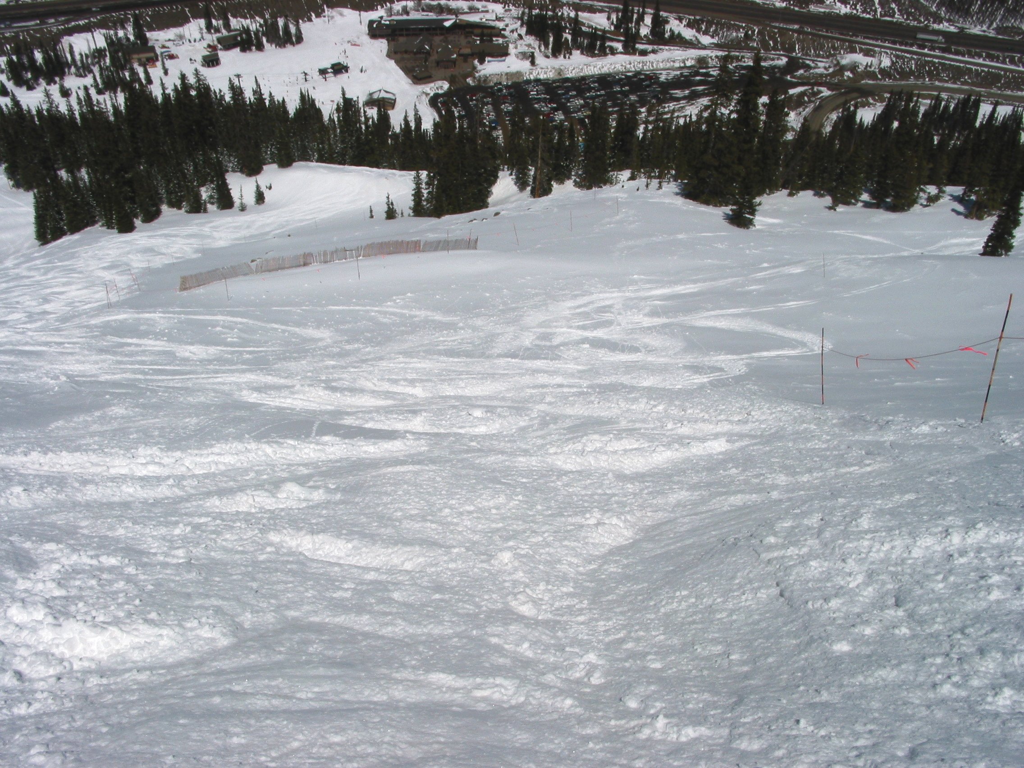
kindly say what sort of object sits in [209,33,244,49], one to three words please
barn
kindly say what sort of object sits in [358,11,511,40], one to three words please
building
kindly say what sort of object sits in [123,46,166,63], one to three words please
building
